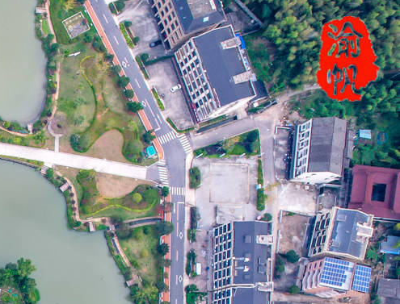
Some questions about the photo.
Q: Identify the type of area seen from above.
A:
residential area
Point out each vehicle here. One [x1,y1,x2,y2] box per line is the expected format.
[196,261,204,276]
[149,38,162,47]
[169,83,181,92]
